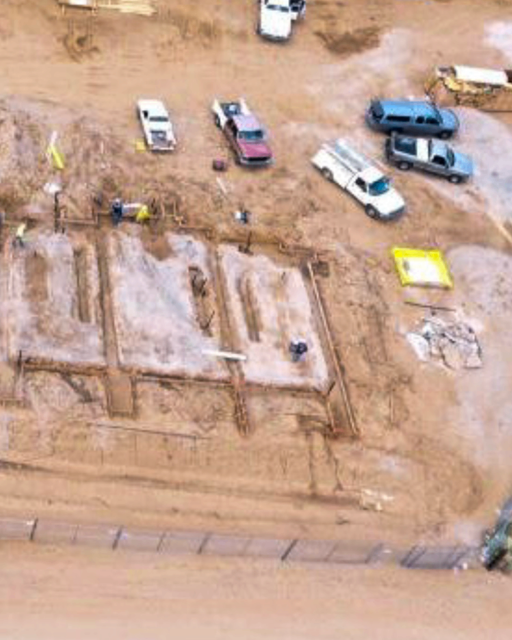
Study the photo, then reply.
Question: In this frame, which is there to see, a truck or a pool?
truck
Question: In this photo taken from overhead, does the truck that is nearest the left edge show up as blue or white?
white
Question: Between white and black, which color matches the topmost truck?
white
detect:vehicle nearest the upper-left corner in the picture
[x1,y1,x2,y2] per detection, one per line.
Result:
[133,101,177,153]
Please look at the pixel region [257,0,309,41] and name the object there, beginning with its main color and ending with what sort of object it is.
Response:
white truck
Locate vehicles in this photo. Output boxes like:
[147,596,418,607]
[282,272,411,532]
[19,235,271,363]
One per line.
[133,101,177,153]
[257,0,309,41]
[211,98,274,170]
[365,94,462,136]
[315,137,408,223]
[384,130,477,182]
